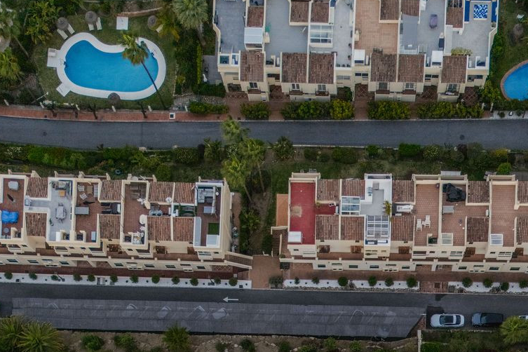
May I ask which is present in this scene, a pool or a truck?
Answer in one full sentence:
I can see a pool in this picture.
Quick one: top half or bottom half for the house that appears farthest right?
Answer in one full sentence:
The house that appears farthest right is in the bottom half of the image.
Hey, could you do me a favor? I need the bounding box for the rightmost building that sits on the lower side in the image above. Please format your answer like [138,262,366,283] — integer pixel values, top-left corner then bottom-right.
[478,179,528,280]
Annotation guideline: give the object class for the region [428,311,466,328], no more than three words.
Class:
car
